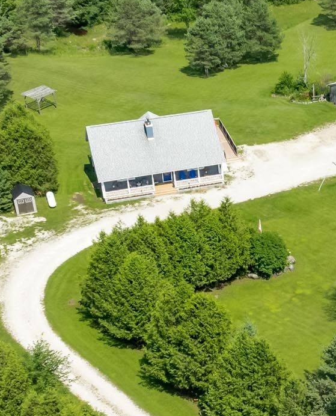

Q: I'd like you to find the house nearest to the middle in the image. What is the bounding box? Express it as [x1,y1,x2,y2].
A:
[85,108,246,203]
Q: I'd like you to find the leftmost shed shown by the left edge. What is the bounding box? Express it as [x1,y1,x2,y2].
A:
[11,179,38,216]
